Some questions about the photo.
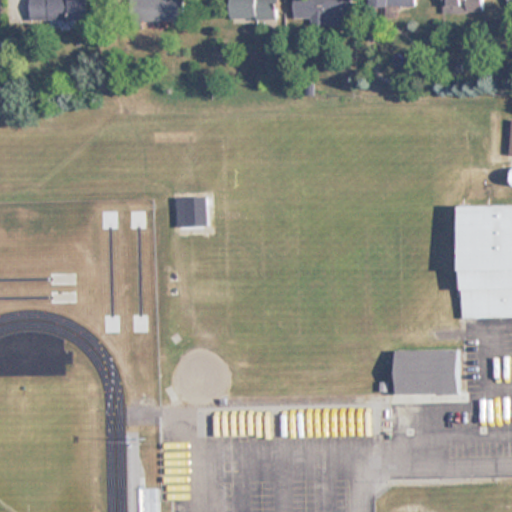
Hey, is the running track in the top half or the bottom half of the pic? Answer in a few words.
bottom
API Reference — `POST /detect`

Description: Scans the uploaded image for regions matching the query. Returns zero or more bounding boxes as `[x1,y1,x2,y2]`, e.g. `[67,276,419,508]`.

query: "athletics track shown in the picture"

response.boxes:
[0,310,127,512]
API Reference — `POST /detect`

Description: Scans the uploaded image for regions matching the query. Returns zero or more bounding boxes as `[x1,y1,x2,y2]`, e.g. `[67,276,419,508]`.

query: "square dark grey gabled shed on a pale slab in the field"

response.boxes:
[176,198,208,227]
